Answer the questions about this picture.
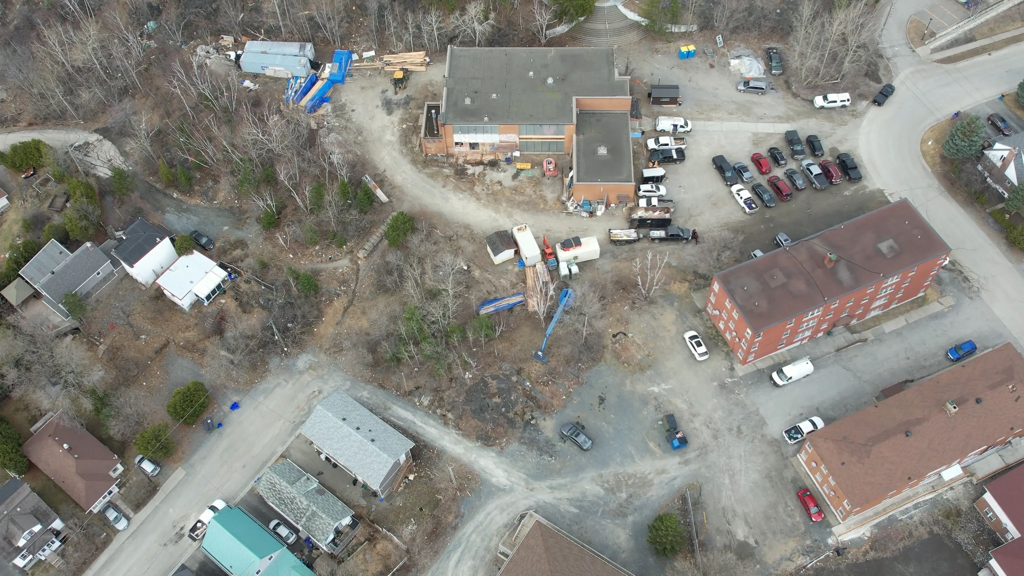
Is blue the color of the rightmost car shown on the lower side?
Yes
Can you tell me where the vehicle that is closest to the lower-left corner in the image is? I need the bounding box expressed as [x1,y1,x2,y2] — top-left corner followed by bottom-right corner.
[98,500,133,536]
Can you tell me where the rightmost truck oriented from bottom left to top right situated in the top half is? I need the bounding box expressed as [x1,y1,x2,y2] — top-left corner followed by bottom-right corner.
[870,81,897,110]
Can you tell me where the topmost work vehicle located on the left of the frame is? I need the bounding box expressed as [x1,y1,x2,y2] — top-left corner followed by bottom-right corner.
[390,67,409,91]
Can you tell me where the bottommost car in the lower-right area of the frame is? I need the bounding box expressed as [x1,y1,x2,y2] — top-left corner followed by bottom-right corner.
[794,484,827,528]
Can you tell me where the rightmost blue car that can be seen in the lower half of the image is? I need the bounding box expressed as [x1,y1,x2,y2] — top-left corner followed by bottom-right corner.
[941,338,982,364]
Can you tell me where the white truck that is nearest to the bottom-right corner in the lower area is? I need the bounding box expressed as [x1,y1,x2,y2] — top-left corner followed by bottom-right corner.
[778,413,830,445]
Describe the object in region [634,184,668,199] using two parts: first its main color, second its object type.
white car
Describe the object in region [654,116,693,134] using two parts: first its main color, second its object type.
white vehicle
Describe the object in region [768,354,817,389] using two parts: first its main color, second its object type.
white van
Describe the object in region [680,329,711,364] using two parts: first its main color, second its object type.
white car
